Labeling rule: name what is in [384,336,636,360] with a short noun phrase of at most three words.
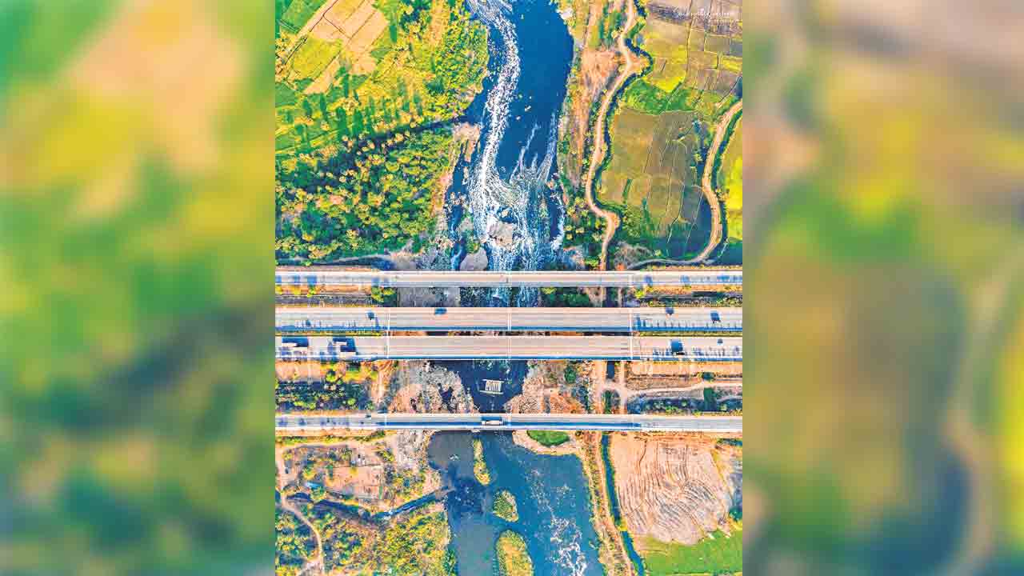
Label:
bridge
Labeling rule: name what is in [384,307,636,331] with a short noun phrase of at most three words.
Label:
bridge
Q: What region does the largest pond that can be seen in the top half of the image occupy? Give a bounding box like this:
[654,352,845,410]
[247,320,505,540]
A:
[671,188,711,253]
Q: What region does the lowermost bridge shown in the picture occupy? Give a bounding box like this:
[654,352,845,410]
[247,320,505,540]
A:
[384,413,636,433]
